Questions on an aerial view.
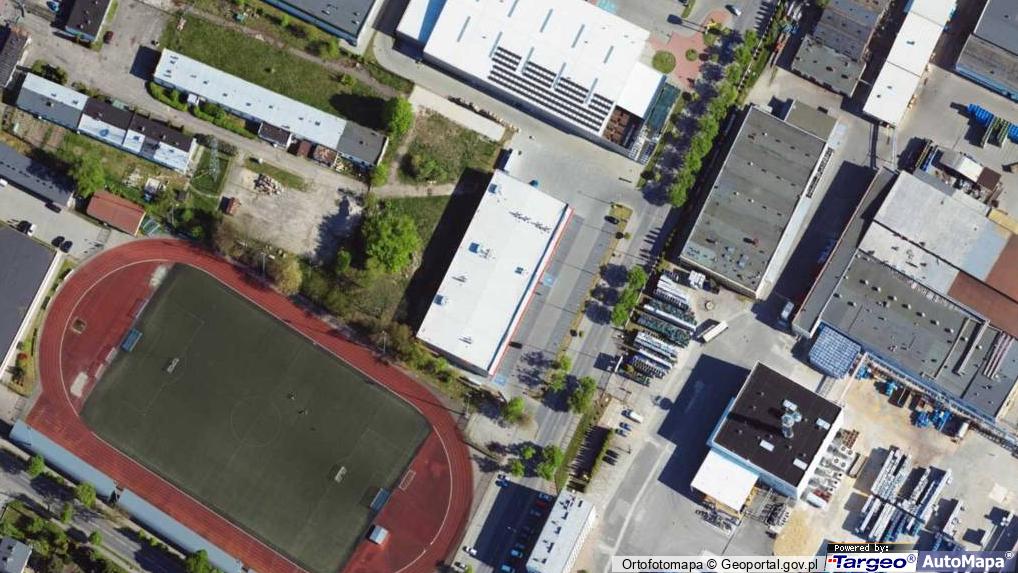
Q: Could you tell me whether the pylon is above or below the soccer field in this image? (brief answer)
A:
above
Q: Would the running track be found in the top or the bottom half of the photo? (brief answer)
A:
bottom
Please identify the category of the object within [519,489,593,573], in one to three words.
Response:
building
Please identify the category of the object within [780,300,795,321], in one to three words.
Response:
vehicle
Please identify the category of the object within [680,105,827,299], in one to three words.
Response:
building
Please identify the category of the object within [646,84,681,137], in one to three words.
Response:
house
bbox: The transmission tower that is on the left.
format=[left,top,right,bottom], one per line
[202,141,223,188]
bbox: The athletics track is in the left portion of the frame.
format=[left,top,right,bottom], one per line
[26,237,472,573]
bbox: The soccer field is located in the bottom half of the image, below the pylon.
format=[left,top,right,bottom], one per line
[83,263,431,573]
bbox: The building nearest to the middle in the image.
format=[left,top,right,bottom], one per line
[417,169,577,377]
